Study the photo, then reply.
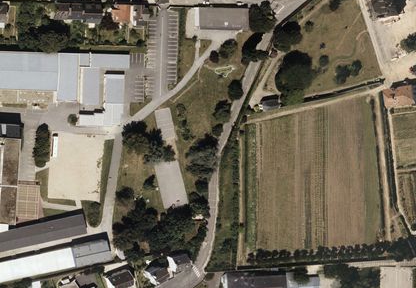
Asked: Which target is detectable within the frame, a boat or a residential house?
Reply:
residential house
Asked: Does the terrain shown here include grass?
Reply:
Yes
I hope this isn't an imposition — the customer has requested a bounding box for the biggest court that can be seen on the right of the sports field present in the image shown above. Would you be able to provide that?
[154,163,188,209]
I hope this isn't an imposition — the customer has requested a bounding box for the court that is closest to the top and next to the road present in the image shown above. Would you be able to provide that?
[155,108,175,142]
